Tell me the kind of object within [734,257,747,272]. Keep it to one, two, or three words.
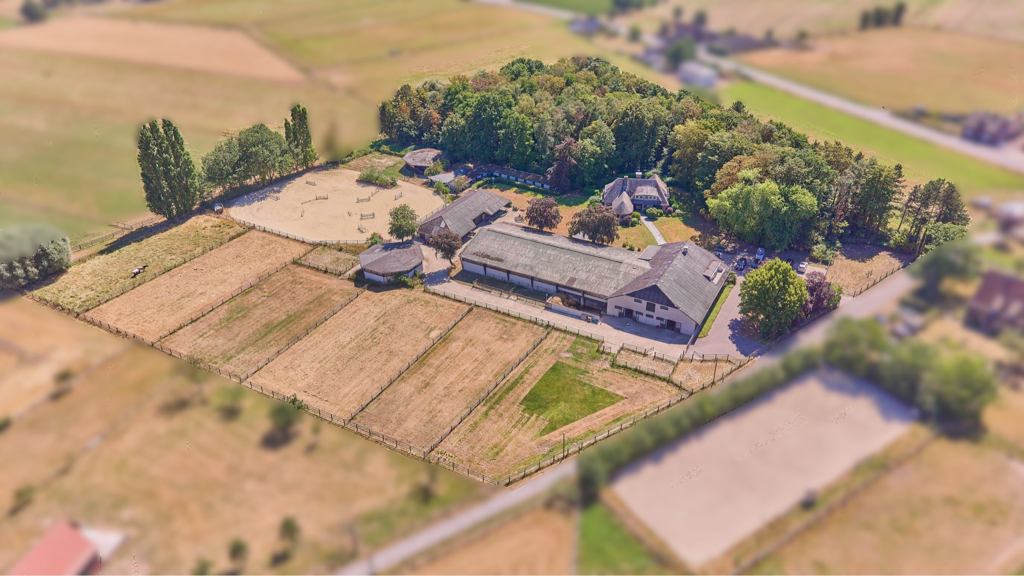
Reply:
vehicle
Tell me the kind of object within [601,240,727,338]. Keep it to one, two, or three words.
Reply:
house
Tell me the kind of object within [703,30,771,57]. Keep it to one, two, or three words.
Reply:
shed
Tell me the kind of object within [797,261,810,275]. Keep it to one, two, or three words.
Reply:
vehicle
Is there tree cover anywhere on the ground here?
Yes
